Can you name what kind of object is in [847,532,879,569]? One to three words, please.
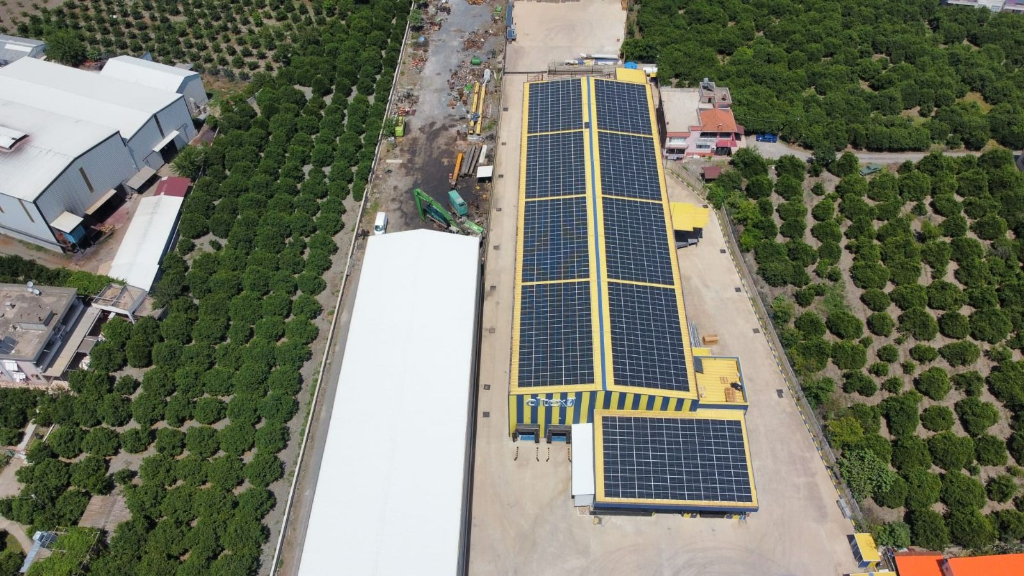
shed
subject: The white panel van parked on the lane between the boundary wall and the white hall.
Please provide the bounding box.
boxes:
[372,207,389,235]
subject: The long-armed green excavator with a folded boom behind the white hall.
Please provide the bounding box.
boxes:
[414,189,471,235]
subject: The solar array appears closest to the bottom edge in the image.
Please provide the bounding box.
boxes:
[602,416,753,503]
